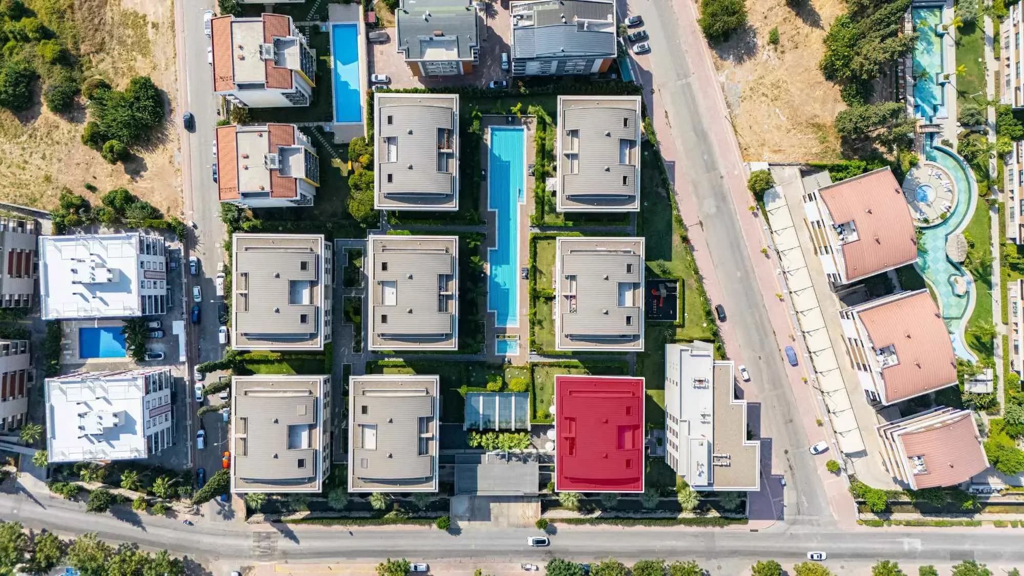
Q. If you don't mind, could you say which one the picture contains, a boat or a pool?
pool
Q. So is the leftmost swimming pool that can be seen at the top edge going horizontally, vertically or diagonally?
vertically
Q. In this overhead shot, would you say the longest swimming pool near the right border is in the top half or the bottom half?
top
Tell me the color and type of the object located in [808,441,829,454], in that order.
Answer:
white vehicle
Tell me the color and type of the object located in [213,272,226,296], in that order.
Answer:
white vehicle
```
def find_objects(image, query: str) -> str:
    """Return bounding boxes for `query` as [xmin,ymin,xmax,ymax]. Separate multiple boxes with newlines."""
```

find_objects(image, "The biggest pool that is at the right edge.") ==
[910,3,981,366]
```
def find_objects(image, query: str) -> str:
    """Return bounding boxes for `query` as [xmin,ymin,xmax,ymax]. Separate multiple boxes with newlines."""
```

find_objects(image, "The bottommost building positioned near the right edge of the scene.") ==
[877,404,988,492]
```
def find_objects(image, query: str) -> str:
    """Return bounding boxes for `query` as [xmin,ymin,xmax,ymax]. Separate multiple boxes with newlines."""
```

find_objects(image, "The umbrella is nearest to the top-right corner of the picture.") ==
[943,237,965,259]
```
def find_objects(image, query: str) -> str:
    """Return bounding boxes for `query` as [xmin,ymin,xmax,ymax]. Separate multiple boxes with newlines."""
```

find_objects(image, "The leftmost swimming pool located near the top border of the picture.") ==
[329,21,362,125]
